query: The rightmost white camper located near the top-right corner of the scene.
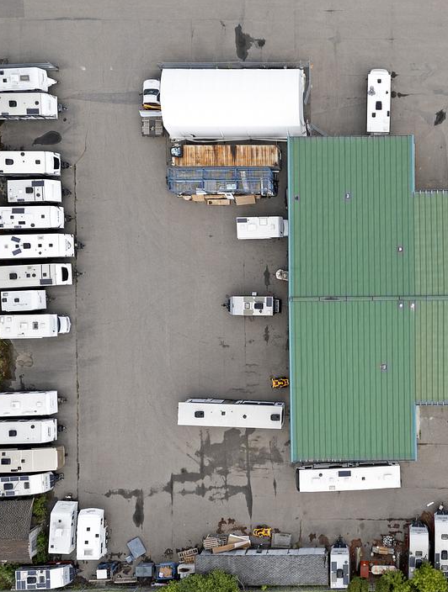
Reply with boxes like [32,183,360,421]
[366,70,390,135]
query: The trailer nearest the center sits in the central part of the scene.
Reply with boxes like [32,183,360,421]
[223,291,282,315]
